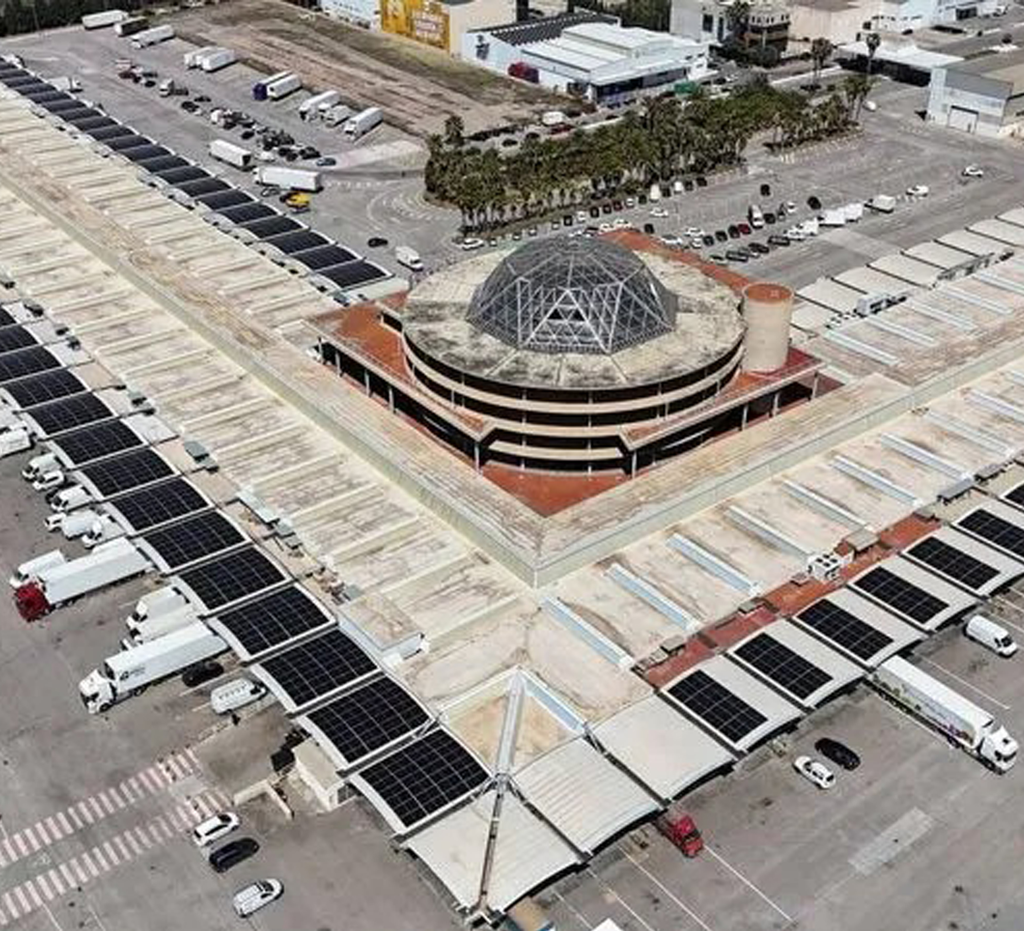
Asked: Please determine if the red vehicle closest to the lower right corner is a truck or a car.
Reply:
truck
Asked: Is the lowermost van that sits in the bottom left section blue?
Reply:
No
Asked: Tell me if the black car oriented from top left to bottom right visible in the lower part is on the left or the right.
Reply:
right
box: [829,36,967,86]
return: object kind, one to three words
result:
shed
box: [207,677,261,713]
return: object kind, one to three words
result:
van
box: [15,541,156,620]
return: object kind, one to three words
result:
truck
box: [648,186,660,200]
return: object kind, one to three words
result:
vehicle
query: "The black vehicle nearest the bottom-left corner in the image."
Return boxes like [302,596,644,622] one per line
[209,838,257,871]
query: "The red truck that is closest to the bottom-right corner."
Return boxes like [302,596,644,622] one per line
[652,808,712,856]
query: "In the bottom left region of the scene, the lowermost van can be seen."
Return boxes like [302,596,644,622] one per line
[228,872,284,915]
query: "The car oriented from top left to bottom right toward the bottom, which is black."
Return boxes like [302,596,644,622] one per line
[815,734,857,767]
